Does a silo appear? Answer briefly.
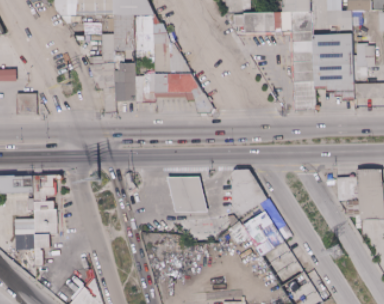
No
